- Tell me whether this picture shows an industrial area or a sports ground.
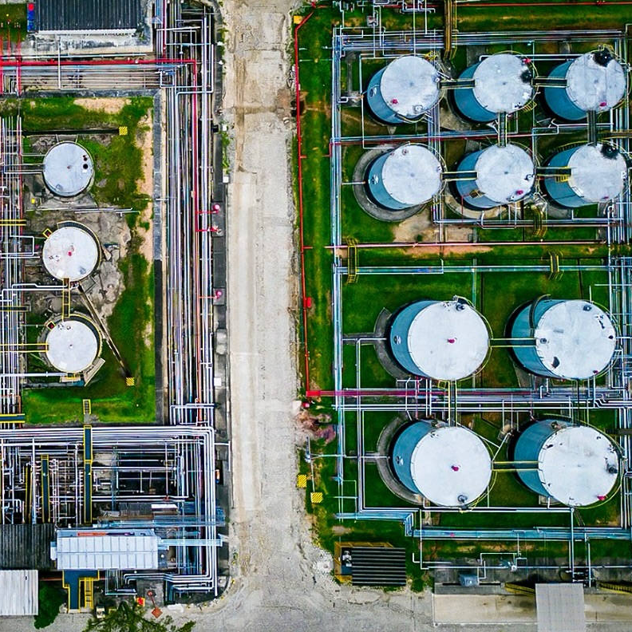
industrial area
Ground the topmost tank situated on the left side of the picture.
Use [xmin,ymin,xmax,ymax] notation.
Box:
[39,139,99,203]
